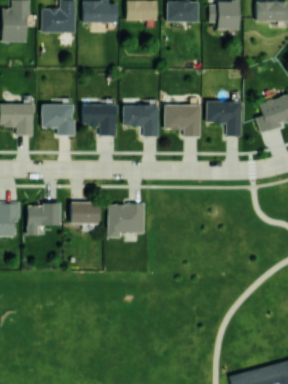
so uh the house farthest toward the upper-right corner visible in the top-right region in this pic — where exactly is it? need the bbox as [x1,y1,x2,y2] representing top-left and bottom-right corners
[256,0,288,22]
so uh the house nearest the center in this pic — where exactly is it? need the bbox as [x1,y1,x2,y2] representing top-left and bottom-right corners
[107,204,146,239]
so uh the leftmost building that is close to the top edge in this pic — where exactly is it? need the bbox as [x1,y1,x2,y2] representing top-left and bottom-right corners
[2,0,30,43]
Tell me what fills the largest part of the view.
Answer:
grass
